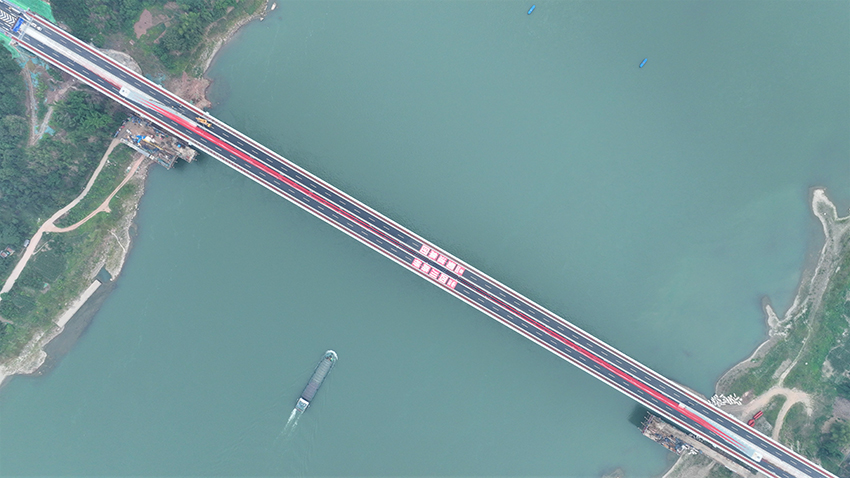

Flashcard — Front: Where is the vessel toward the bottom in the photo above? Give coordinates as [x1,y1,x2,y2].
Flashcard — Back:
[294,350,335,414]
